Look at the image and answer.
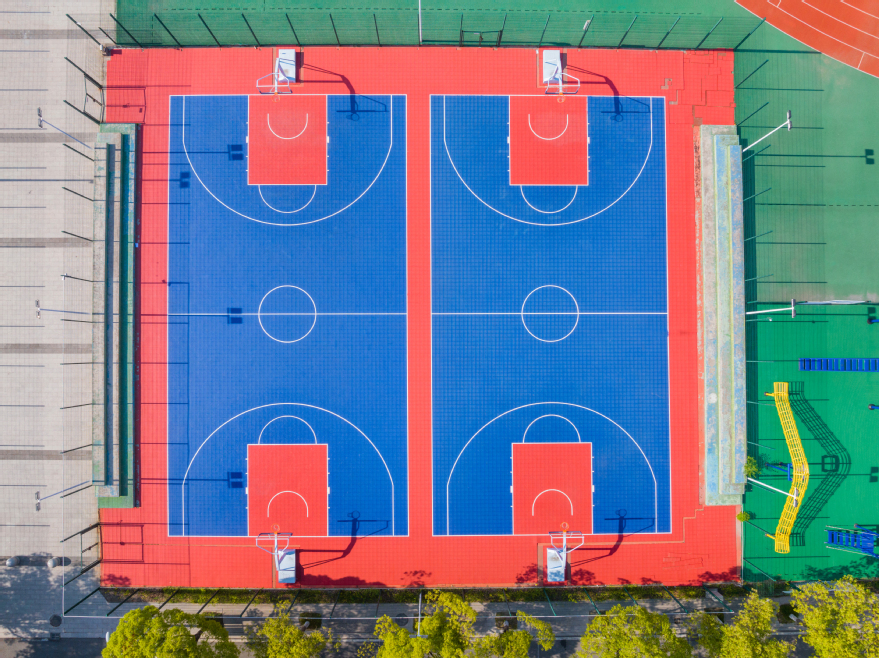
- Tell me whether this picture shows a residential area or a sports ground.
sports ground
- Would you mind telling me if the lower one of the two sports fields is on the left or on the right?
right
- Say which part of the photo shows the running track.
top right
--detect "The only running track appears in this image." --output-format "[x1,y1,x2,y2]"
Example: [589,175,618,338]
[736,0,879,78]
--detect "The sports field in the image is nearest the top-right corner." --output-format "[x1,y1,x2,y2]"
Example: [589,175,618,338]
[738,46,879,303]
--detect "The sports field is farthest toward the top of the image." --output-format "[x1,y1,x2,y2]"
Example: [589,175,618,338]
[116,0,809,46]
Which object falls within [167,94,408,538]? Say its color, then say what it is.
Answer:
blue basketball court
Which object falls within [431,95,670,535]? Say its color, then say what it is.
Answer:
blue basketball court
